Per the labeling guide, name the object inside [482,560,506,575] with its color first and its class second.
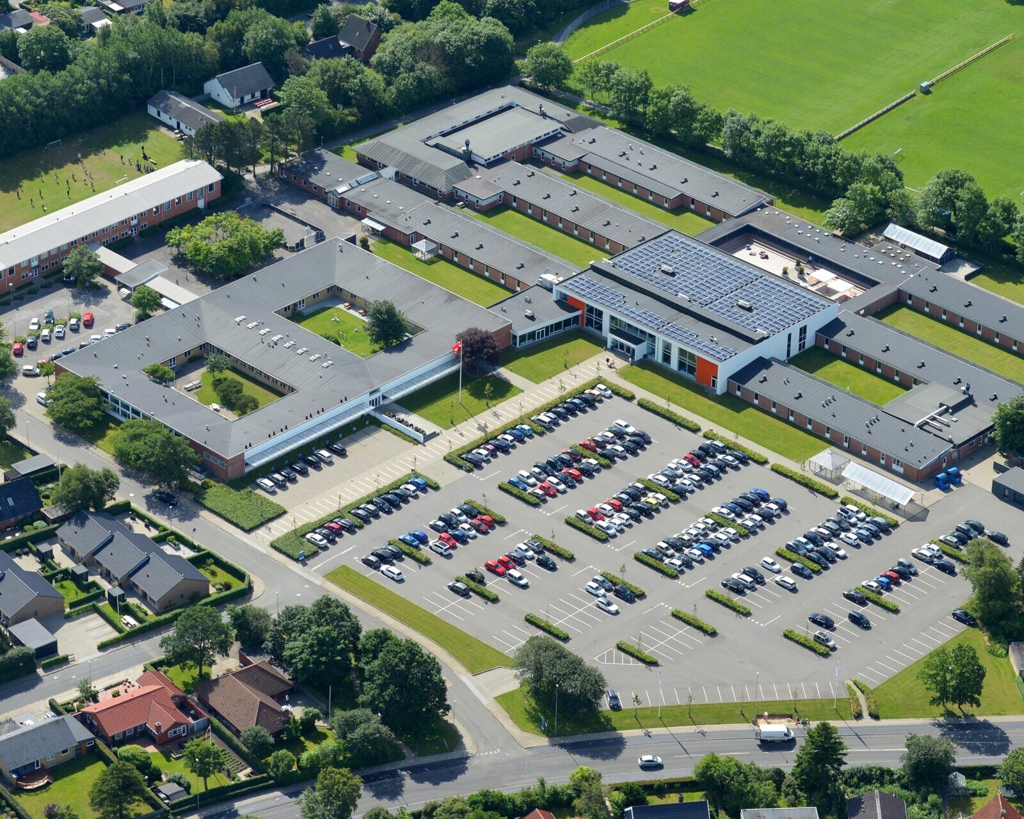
red car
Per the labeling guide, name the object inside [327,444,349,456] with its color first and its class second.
black vehicle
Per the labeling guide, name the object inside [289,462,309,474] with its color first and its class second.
black vehicle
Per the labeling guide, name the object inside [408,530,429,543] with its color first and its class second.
blue vehicle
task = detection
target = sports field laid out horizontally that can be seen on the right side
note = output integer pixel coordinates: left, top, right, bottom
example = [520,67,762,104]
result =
[556,0,1024,226]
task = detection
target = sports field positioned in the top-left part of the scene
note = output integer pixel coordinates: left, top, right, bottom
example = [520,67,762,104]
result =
[0,116,189,235]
